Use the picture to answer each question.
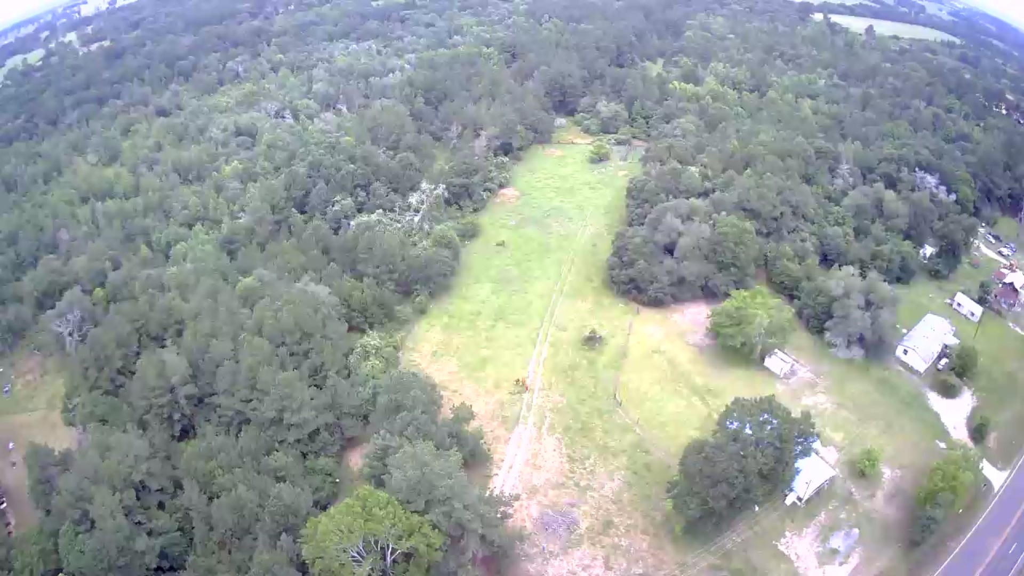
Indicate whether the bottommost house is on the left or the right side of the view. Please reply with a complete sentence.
The bottommost house is on the right side of the image.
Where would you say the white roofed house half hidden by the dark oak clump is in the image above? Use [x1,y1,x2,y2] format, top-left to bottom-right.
[773,446,840,512]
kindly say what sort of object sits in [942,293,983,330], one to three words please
house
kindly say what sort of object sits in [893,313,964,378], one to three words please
house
